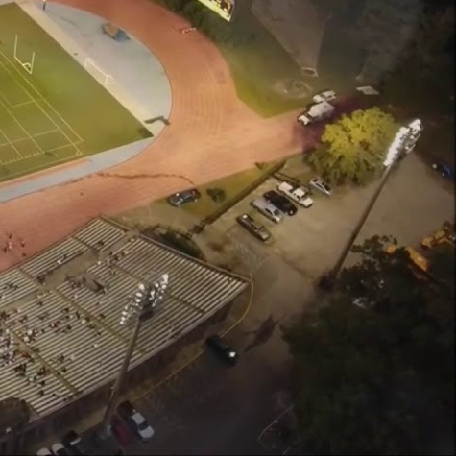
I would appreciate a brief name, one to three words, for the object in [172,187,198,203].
car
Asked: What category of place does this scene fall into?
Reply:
sports ground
